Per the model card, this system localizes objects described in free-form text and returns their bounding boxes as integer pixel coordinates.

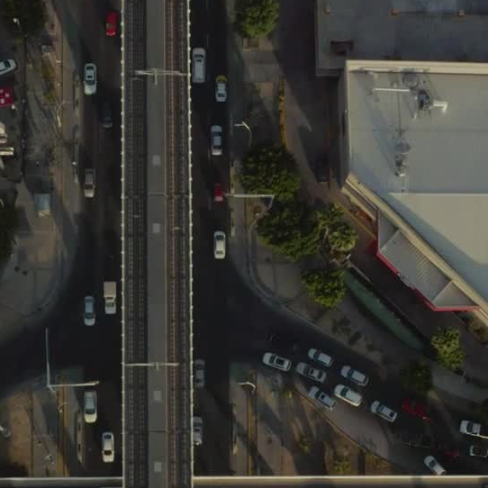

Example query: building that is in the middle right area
[336,62,488,332]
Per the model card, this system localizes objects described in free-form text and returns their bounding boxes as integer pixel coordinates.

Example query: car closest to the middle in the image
[214,231,227,260]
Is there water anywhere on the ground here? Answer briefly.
No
